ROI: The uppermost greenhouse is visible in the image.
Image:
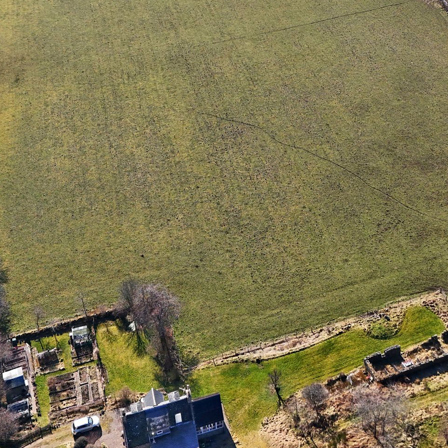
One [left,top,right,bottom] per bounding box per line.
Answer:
[72,329,90,353]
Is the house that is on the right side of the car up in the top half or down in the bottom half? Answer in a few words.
bottom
